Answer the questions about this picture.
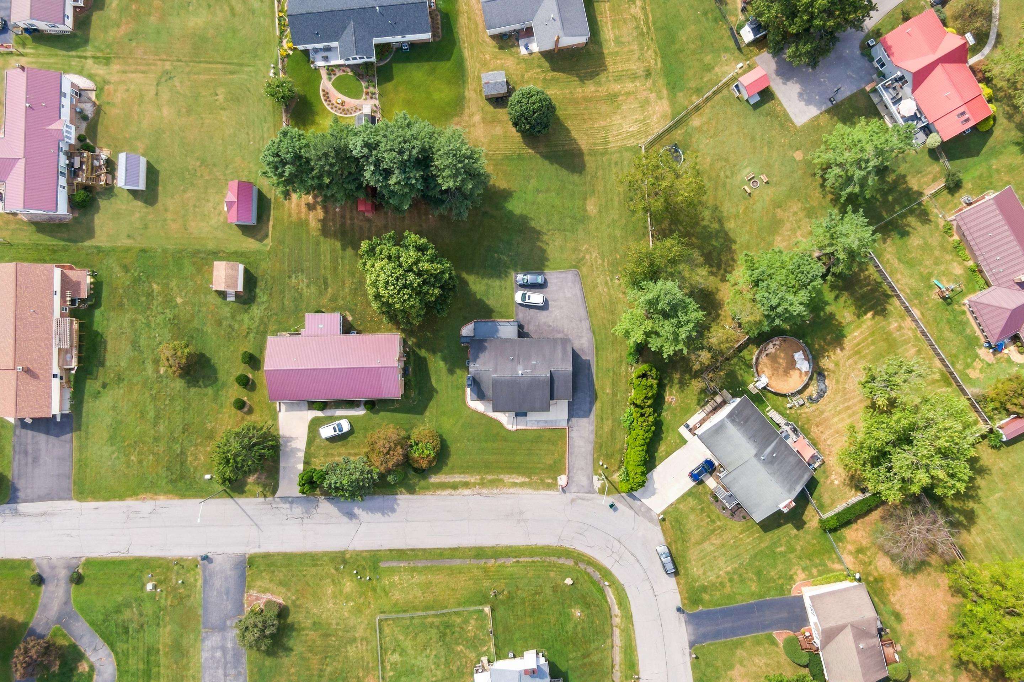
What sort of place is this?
residential area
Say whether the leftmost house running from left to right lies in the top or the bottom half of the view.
top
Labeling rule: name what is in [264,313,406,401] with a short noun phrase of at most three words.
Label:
house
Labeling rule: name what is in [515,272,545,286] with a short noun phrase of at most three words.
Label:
car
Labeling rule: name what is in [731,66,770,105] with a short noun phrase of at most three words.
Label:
shed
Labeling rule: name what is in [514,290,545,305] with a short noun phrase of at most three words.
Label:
car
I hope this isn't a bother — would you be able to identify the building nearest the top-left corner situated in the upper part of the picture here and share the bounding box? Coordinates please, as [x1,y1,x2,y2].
[11,0,87,31]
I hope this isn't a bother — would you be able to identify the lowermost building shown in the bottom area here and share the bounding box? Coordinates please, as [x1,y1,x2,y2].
[474,650,551,682]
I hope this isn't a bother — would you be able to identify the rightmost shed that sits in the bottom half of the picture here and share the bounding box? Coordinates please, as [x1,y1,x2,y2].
[991,412,1024,442]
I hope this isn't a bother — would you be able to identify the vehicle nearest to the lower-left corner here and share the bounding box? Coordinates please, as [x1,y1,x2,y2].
[318,419,351,438]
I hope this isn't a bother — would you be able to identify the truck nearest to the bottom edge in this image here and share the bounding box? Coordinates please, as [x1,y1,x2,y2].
[656,543,677,576]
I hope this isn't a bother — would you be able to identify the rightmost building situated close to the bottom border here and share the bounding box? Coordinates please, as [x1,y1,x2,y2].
[799,577,888,682]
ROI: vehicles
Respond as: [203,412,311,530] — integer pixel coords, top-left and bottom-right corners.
[688,459,716,484]
[514,290,545,305]
[656,543,677,576]
[515,272,545,286]
[318,419,351,438]
[0,17,7,30]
